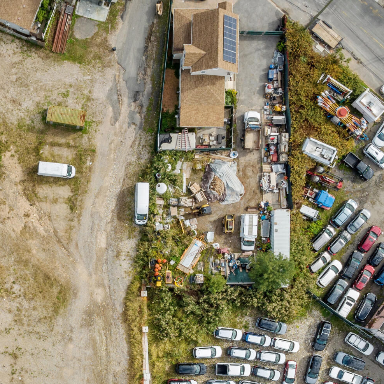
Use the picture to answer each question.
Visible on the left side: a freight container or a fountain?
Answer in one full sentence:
What appears on the left side is a freight container.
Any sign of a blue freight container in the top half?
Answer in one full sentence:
No, in the top half there is no blue freight container.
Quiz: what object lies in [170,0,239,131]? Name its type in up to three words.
house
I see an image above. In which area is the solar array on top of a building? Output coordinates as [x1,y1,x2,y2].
[224,8,238,62]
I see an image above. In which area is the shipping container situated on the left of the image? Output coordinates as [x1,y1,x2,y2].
[46,105,87,131]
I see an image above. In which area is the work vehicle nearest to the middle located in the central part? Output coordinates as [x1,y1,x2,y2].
[186,204,212,216]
